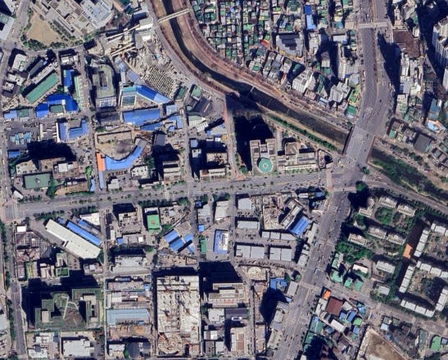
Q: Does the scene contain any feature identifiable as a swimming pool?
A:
No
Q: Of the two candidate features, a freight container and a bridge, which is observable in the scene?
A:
bridge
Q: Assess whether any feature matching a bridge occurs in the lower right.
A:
No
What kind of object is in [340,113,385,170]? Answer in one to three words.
bridge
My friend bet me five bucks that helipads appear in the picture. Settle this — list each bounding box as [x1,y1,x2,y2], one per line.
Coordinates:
[258,157,274,173]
